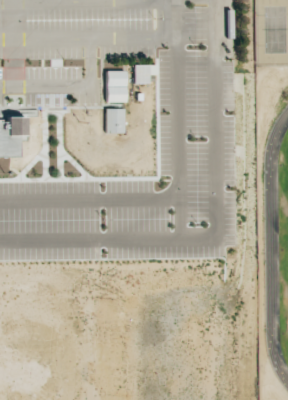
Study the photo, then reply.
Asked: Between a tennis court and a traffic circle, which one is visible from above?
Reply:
tennis court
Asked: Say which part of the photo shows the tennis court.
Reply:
top right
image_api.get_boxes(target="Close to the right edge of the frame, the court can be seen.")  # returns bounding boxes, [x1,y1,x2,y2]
[263,8,288,53]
